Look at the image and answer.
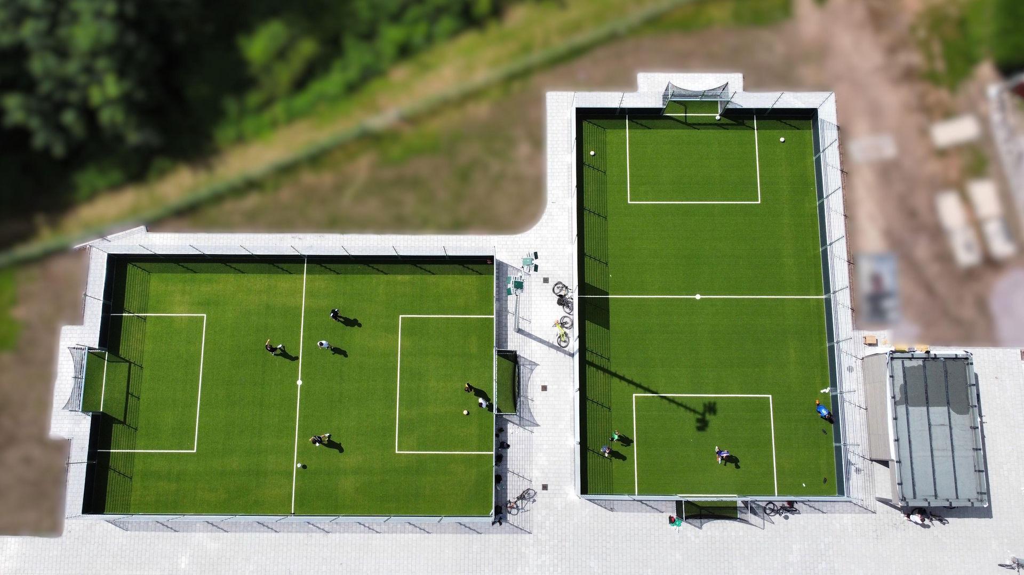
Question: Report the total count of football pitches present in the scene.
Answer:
2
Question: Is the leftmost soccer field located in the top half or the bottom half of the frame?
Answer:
bottom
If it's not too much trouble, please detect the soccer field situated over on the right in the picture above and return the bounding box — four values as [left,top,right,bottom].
[573,99,837,516]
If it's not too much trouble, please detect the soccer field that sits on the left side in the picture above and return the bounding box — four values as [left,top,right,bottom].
[83,258,513,513]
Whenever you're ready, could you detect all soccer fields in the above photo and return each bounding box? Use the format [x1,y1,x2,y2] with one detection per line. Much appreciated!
[83,258,513,513]
[573,99,837,516]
